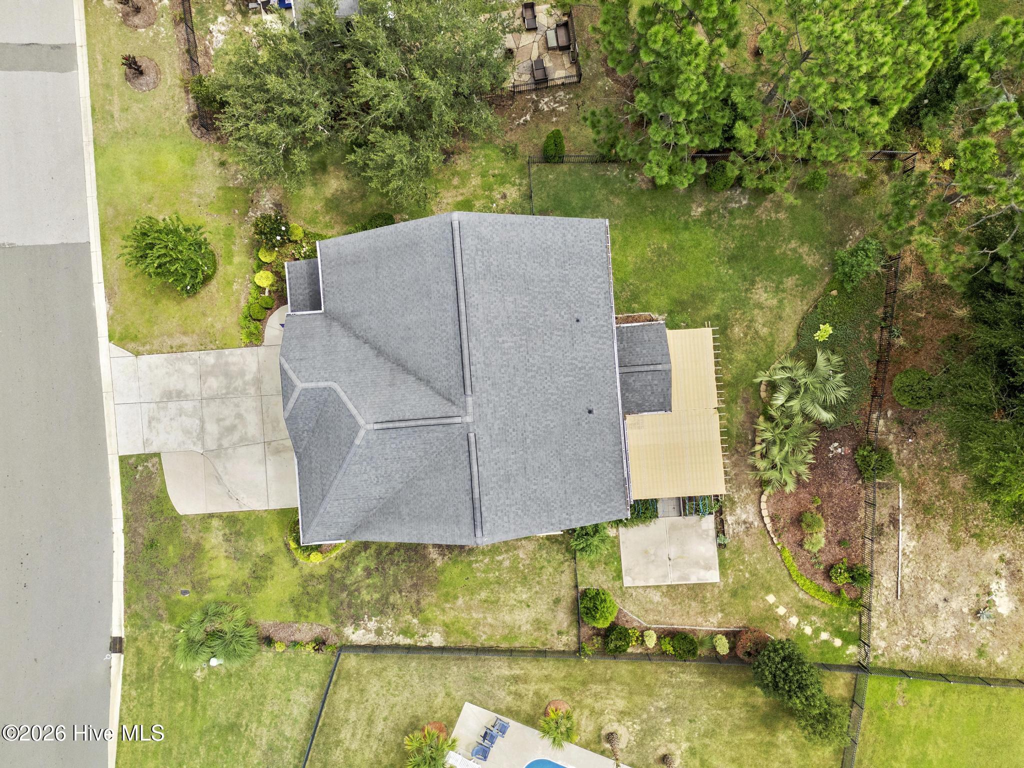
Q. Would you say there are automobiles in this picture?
No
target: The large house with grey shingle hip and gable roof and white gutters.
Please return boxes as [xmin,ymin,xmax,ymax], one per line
[278,212,672,548]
